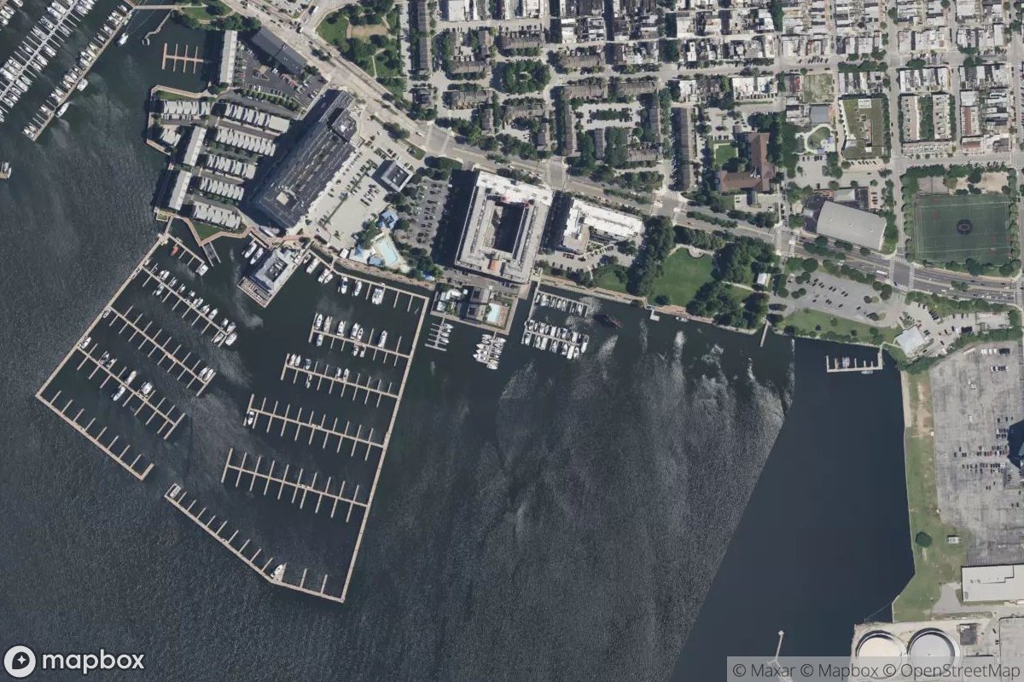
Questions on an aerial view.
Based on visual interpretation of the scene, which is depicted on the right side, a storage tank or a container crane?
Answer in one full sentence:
It is a storage tank that can be seen on the right side.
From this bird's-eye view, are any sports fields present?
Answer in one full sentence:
Yes, looking at the shot, I can spot a sports field.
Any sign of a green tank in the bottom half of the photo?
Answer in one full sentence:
No, no green tank appears in the bottom half of the photo.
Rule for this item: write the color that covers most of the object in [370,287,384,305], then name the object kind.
white boat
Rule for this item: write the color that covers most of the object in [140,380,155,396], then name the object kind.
white boat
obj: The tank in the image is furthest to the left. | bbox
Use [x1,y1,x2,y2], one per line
[858,633,905,679]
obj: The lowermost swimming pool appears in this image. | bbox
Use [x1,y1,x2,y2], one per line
[486,302,500,324]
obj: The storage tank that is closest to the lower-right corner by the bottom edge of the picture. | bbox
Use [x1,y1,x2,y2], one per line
[907,632,956,680]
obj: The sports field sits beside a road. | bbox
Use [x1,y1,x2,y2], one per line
[914,191,1011,263]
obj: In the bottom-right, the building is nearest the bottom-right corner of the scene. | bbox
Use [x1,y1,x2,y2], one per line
[960,625,976,646]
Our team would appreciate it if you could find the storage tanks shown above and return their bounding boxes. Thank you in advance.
[907,632,956,680]
[858,633,905,679]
